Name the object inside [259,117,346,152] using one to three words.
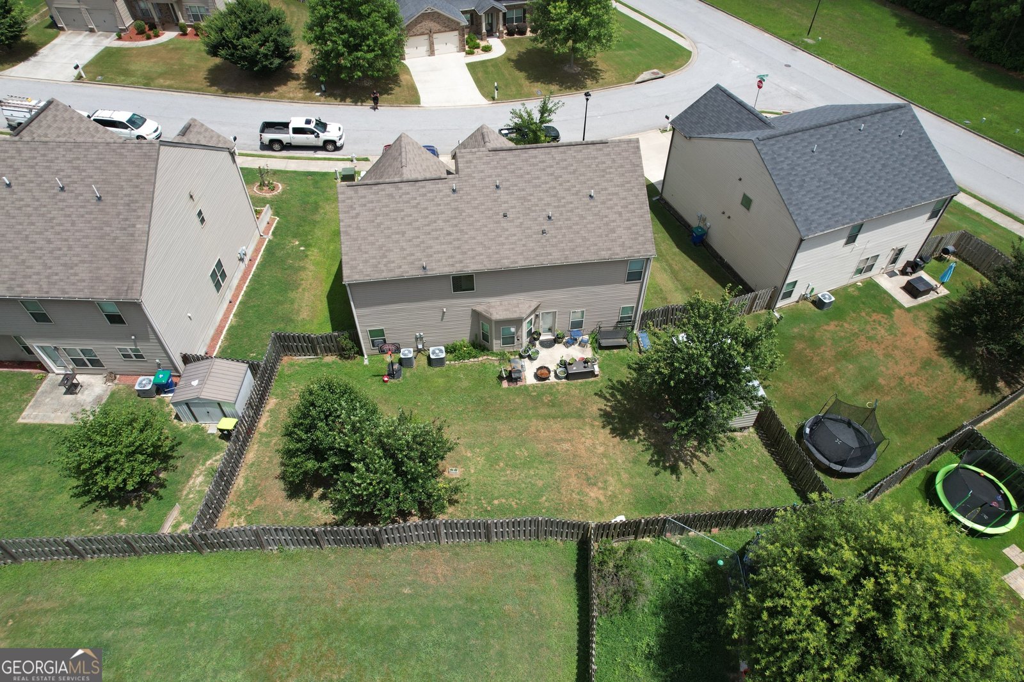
truck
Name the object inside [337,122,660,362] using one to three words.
house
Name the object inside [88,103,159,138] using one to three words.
car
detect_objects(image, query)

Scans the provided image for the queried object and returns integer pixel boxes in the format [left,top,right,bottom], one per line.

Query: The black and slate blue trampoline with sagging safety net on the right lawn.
[797,393,901,489]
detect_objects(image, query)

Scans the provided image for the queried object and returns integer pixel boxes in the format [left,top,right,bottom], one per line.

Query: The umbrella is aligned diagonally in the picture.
[940,258,963,291]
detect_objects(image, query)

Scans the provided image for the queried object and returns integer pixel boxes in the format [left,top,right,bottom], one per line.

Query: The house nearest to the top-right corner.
[652,85,961,316]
